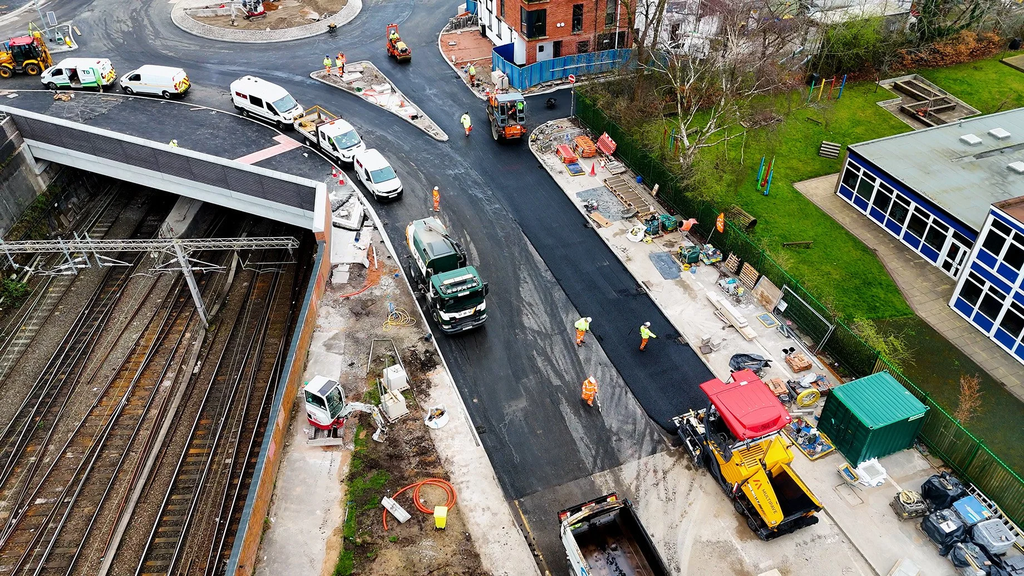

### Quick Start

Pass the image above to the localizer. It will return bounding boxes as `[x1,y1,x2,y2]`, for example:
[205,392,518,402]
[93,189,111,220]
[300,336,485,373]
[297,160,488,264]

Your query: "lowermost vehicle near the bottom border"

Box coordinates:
[552,491,675,576]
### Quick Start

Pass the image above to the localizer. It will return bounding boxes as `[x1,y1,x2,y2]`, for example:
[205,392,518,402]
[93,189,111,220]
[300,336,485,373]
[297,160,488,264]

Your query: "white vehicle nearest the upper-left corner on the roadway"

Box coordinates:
[38,58,115,92]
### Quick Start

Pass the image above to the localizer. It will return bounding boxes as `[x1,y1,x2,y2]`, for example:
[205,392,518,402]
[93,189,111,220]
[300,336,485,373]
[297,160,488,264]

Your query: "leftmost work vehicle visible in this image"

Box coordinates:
[0,30,63,78]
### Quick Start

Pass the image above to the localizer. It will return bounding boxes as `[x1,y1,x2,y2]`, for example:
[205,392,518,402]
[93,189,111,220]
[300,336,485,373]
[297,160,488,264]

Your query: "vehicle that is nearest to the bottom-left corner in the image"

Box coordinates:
[302,384,388,450]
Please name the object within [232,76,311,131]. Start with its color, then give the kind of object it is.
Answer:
white vehicle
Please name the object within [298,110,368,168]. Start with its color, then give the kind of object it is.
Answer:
white truck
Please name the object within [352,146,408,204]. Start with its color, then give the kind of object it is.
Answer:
white van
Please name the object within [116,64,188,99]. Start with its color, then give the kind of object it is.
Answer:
white van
